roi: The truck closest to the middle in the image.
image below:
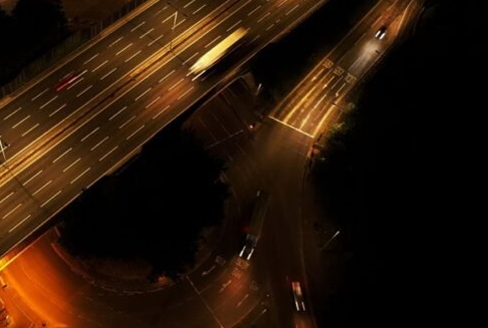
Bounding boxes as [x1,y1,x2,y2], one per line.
[241,191,269,258]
